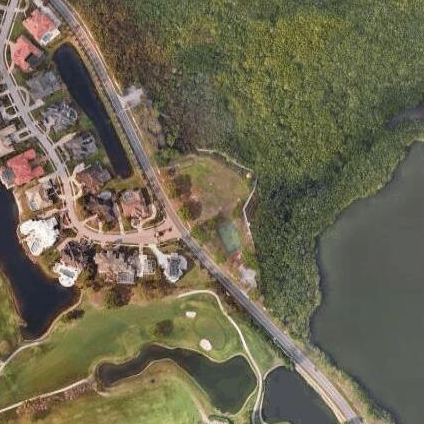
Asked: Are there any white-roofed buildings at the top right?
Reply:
No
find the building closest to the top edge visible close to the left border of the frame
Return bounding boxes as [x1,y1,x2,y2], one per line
[20,5,59,41]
